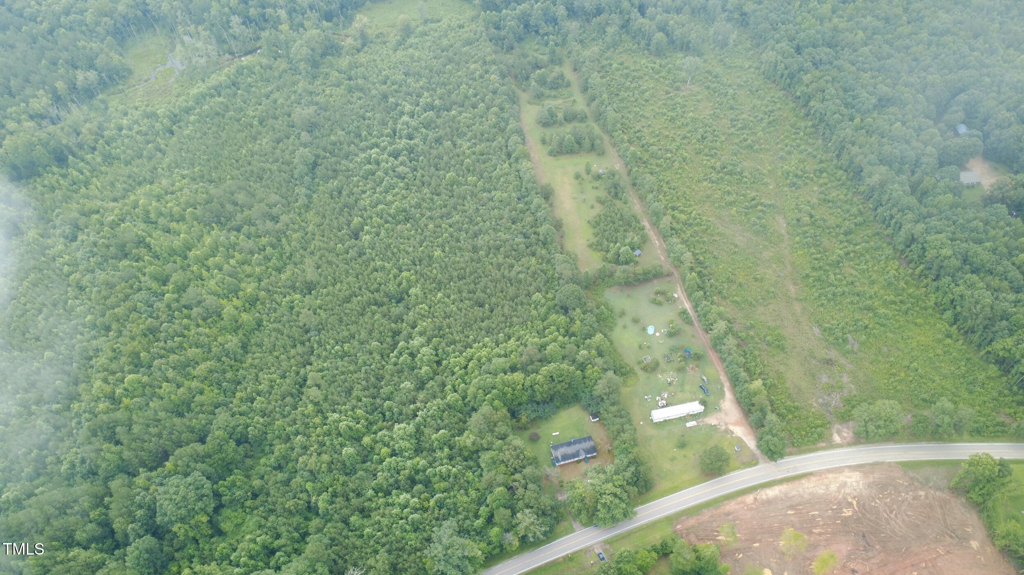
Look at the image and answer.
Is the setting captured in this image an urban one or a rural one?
rural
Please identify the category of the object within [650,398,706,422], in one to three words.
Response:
house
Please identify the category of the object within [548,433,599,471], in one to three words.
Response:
house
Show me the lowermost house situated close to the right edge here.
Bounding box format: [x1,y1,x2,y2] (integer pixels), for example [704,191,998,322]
[959,167,985,186]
